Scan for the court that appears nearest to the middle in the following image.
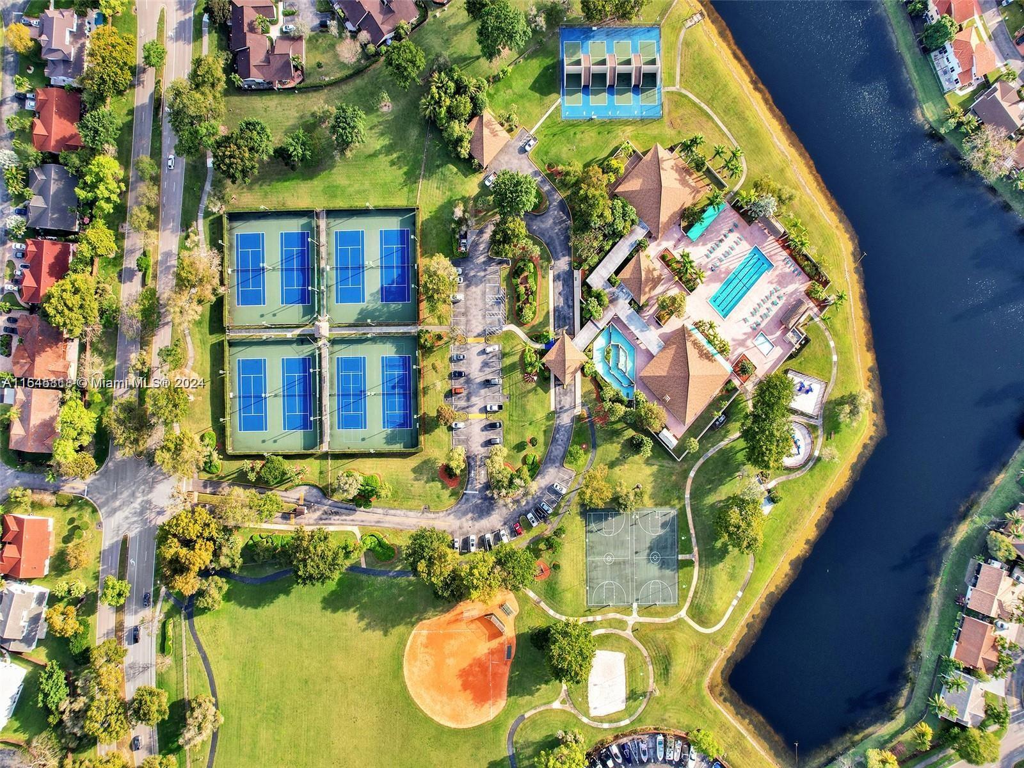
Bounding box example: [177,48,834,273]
[381,348,415,440]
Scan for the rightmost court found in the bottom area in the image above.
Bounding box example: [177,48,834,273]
[634,511,677,604]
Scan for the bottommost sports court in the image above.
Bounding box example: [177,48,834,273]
[588,650,627,717]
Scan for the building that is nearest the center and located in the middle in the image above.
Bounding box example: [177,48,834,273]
[543,333,588,385]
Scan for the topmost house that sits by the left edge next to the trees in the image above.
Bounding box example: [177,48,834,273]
[31,8,89,80]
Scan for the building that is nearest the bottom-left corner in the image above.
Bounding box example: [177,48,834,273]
[0,649,36,735]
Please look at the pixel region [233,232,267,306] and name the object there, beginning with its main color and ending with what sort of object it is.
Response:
blue tennis court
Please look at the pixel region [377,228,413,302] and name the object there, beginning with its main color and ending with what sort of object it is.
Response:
blue tennis court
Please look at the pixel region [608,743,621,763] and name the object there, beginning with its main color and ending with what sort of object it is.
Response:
white boat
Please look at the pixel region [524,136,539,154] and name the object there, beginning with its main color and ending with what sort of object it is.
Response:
white vehicle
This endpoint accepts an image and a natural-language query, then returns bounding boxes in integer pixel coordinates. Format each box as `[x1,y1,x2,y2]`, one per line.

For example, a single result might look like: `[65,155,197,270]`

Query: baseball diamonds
[403,590,519,728]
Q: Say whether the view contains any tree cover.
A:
Yes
